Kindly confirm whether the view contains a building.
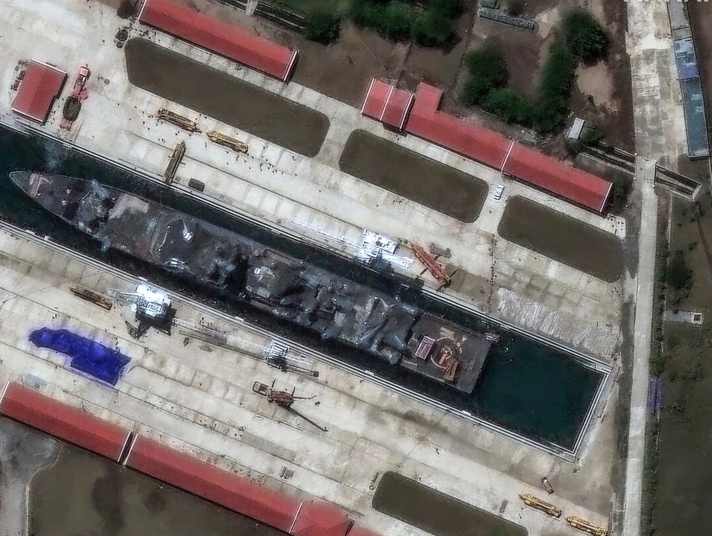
Yes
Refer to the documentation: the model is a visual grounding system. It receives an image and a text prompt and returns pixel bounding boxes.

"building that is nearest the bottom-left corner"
[0,381,131,461]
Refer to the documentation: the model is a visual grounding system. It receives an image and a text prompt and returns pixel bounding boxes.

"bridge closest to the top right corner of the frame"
[634,156,658,186]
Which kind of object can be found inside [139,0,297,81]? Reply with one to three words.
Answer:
building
